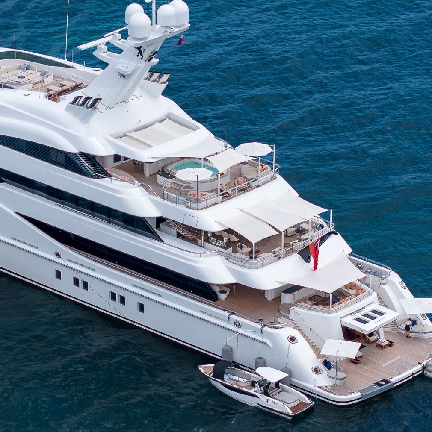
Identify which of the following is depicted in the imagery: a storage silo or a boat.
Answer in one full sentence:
Of the two, only a boat appears.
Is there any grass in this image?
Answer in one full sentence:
No, there's no grass in this view.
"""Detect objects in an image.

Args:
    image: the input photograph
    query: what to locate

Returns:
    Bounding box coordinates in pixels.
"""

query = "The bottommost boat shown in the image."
[197,360,318,426]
